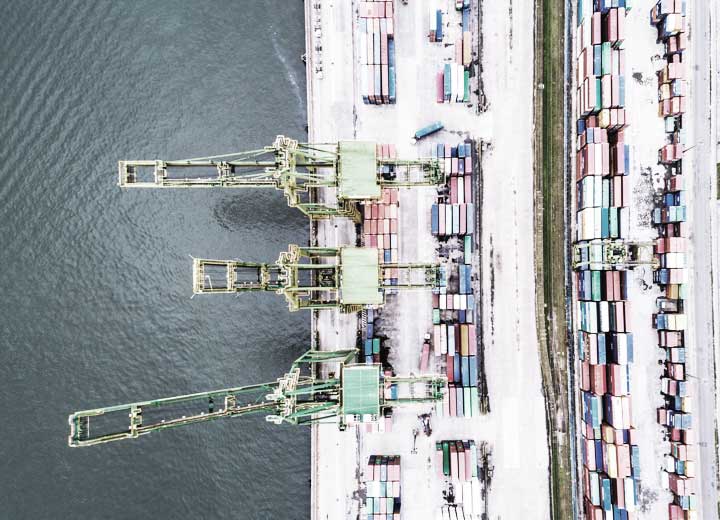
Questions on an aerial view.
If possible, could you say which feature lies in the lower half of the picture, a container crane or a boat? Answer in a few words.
container crane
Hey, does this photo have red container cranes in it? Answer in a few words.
No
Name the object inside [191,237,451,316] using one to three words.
container crane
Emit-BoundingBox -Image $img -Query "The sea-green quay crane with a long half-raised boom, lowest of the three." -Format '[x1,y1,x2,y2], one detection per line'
[67,335,451,450]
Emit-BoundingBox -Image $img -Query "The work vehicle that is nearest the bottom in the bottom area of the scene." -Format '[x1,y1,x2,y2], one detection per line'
[417,414,434,441]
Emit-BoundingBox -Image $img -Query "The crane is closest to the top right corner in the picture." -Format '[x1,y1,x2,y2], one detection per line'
[572,240,660,272]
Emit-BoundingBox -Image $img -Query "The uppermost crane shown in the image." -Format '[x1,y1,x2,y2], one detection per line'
[117,133,451,232]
